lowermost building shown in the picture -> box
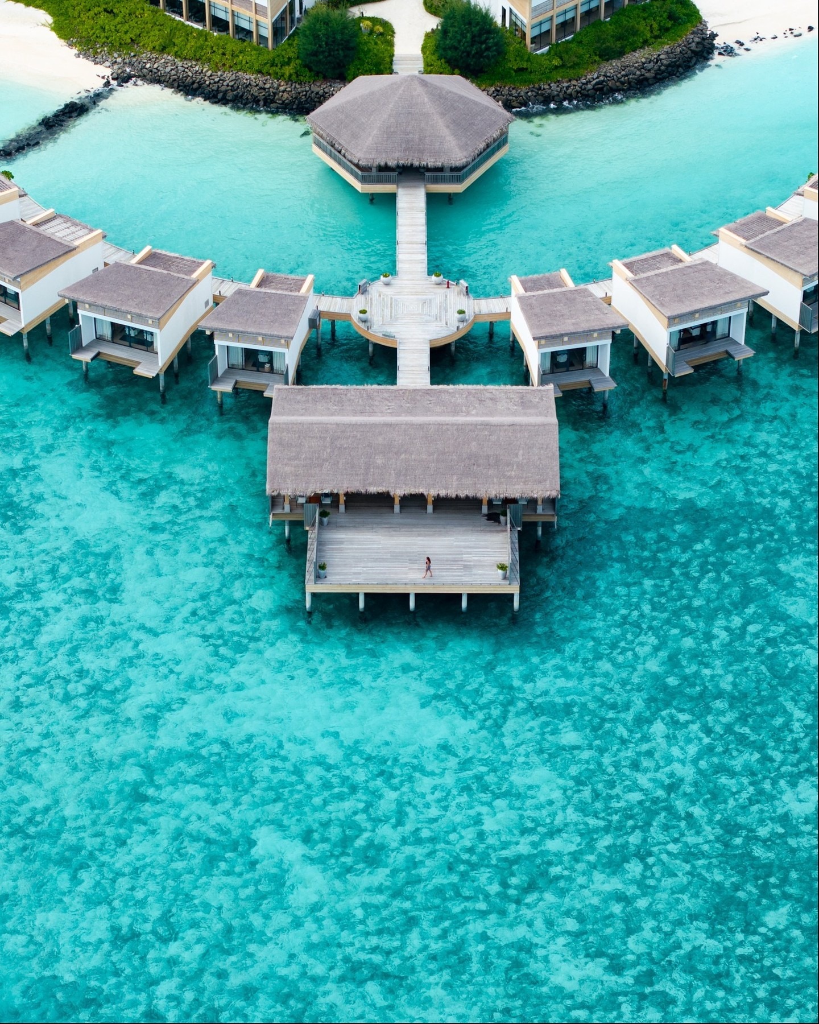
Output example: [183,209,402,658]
[266,382,562,644]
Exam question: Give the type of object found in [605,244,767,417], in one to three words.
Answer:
house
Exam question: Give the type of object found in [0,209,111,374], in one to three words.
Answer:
house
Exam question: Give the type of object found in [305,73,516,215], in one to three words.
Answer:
building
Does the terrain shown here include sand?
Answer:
Yes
